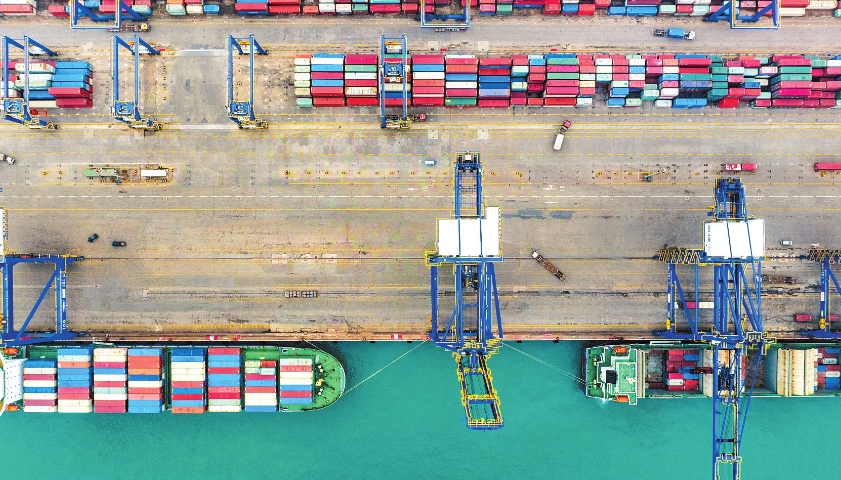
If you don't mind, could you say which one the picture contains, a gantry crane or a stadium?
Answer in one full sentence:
The image shows a gantry crane.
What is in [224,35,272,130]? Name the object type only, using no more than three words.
container crane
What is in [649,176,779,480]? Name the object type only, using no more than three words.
container crane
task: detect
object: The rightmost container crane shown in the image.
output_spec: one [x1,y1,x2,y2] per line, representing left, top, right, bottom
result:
[796,217,841,344]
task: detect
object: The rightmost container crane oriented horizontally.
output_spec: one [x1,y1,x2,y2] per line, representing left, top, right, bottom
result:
[696,0,780,30]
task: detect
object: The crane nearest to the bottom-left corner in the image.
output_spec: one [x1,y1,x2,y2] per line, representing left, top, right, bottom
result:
[0,201,86,359]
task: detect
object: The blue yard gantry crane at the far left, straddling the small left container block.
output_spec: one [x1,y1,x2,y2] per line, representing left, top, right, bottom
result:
[0,35,64,130]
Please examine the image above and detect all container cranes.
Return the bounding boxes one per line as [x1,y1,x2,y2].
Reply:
[0,35,64,130]
[796,217,841,344]
[649,176,779,480]
[224,35,272,130]
[109,35,165,130]
[417,151,509,432]
[411,0,470,30]
[0,201,86,359]
[696,0,780,30]
[71,0,145,30]
[377,35,412,130]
